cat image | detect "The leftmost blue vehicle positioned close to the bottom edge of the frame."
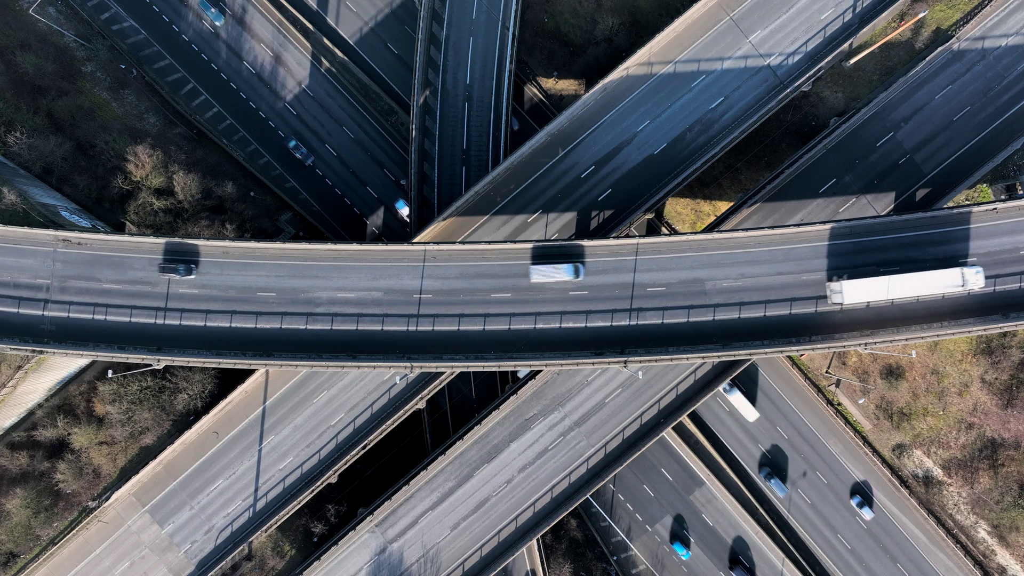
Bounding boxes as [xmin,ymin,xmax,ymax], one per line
[668,535,692,560]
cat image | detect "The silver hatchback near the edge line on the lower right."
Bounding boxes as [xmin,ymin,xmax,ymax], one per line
[848,492,875,521]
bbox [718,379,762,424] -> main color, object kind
white van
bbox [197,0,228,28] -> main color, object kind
blue car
